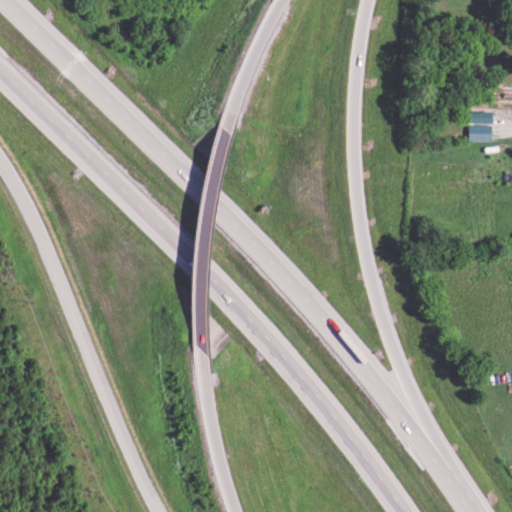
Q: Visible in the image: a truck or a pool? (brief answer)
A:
truck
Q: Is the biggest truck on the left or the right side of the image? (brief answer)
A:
right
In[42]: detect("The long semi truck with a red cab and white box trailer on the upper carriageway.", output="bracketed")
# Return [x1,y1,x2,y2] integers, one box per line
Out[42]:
[326,318,368,364]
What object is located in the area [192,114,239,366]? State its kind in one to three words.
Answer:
overpass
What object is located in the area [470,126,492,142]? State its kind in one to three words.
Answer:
shed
